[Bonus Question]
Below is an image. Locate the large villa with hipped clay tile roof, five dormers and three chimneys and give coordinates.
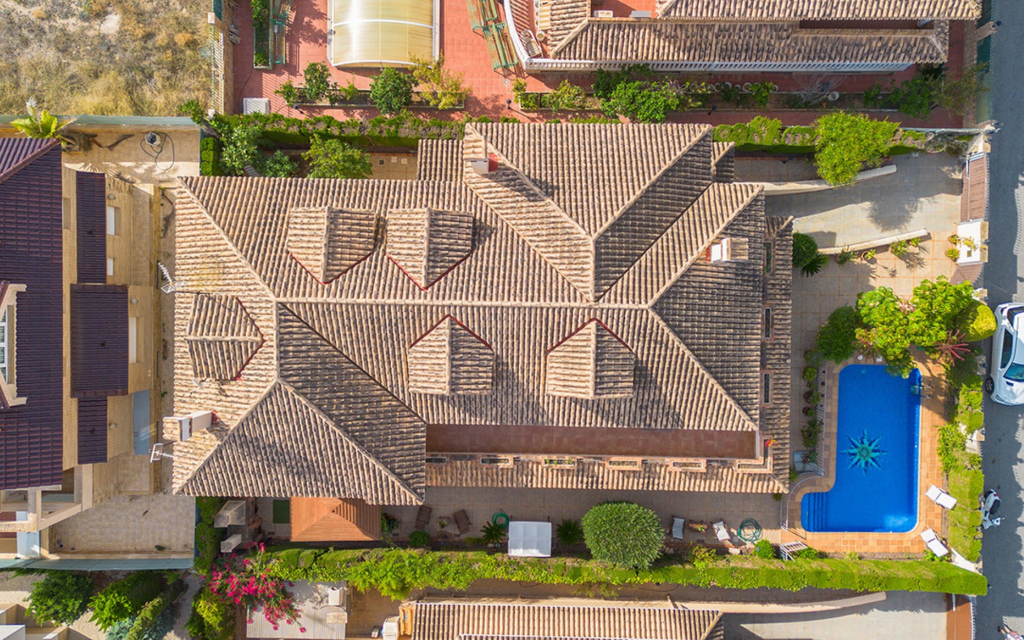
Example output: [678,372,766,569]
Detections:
[162,121,795,507]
